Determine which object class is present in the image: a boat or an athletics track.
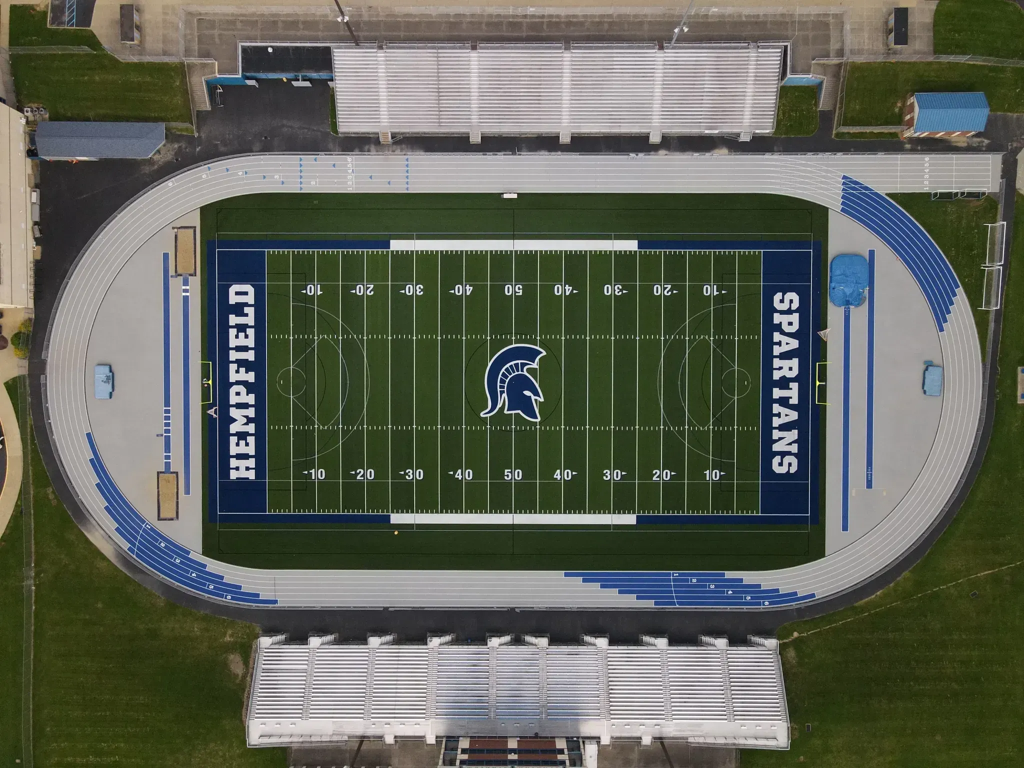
athletics track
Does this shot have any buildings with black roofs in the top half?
Yes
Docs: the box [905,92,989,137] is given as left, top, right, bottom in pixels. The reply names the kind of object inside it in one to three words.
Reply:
building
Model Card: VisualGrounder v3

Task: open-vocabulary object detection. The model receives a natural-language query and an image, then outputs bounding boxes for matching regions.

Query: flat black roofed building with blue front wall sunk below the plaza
[245,46,336,80]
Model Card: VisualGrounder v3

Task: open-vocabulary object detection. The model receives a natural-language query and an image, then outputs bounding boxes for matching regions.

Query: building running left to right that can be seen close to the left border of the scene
[35,122,166,162]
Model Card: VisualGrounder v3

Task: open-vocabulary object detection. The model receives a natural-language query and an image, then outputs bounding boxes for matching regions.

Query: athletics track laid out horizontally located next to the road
[50,153,1002,606]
